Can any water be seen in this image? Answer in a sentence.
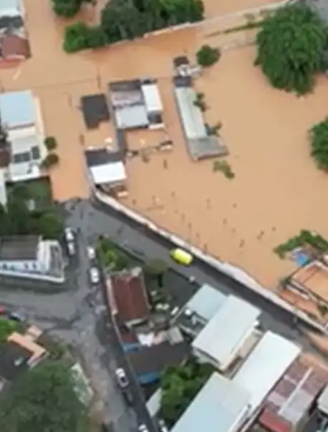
Yes, there's water in this view.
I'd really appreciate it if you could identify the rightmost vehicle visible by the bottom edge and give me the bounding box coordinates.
[154,416,171,432]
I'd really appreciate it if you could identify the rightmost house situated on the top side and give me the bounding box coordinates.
[174,56,228,165]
